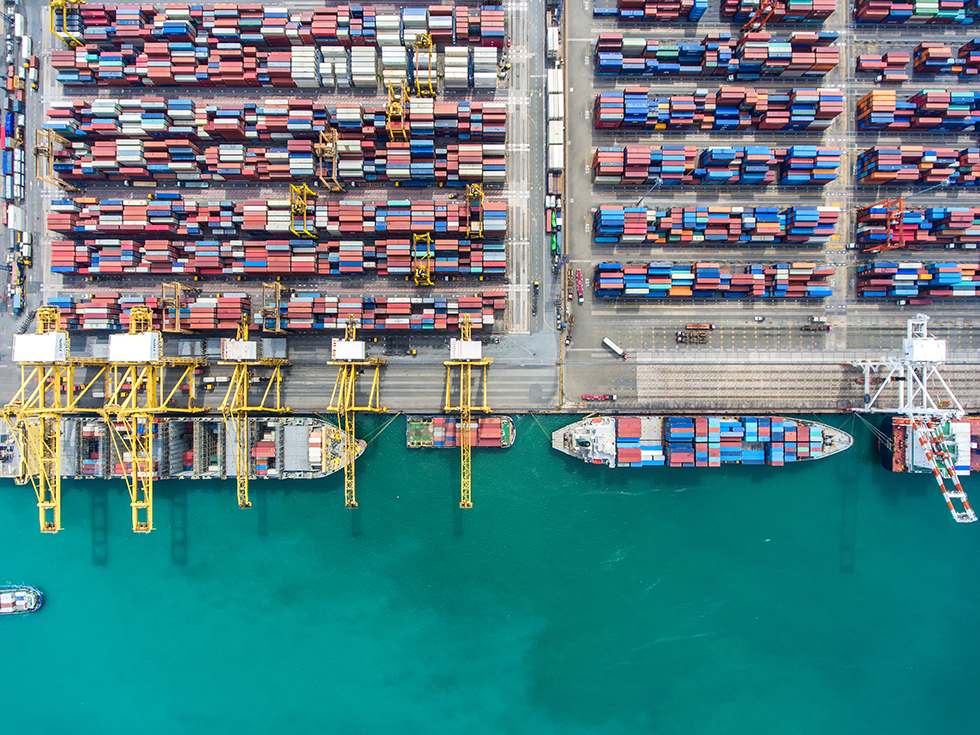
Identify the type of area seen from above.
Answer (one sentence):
The area seen from above is a port.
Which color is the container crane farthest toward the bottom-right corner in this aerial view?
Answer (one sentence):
In this view, the container crane farthest toward the bottom-right corner is white.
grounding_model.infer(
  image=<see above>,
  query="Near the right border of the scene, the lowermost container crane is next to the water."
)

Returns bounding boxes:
[837,313,980,522]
